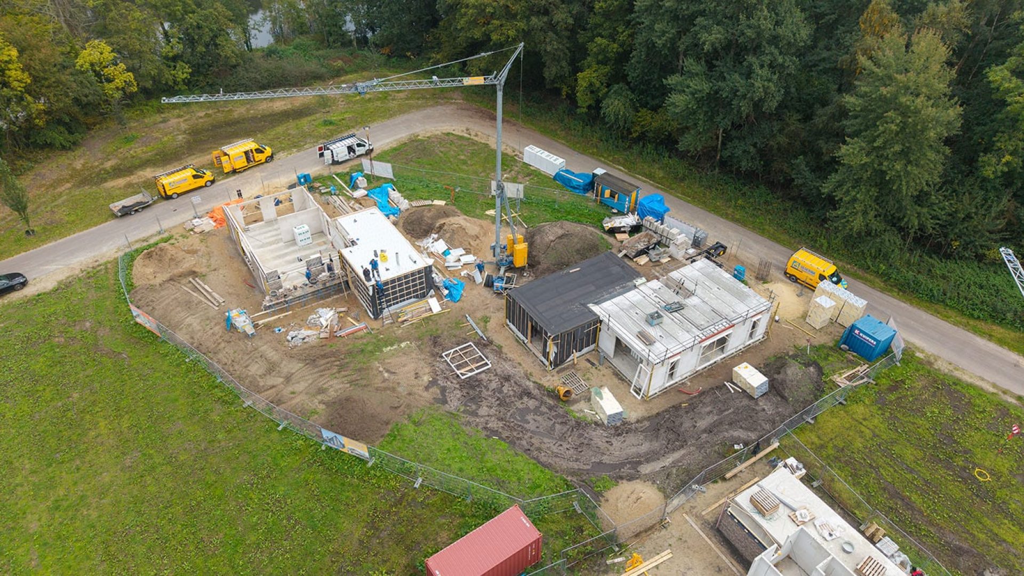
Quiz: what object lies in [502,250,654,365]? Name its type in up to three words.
house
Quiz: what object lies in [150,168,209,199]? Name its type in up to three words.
van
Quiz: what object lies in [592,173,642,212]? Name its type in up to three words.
building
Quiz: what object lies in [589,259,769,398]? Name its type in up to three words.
house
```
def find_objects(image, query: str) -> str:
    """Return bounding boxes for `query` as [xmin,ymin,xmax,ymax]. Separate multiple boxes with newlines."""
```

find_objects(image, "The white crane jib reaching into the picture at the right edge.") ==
[997,245,1024,310]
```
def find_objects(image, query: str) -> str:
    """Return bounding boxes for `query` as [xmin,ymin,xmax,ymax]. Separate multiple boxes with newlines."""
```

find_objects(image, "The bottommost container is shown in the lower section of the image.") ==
[425,504,541,576]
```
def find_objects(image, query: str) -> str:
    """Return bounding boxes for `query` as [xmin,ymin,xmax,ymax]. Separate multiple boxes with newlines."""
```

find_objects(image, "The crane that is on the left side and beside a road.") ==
[158,43,528,292]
